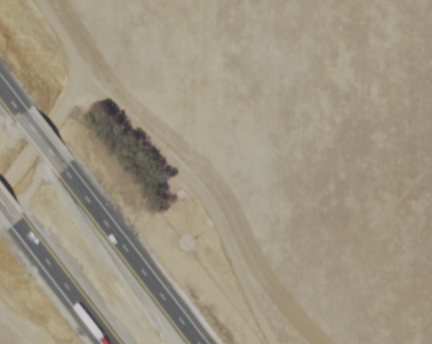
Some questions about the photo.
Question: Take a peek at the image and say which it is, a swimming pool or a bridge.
bridge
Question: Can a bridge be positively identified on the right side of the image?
No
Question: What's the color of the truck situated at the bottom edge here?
white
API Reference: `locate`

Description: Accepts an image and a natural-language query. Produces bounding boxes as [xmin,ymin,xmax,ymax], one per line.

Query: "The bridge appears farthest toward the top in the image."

[11,102,78,178]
